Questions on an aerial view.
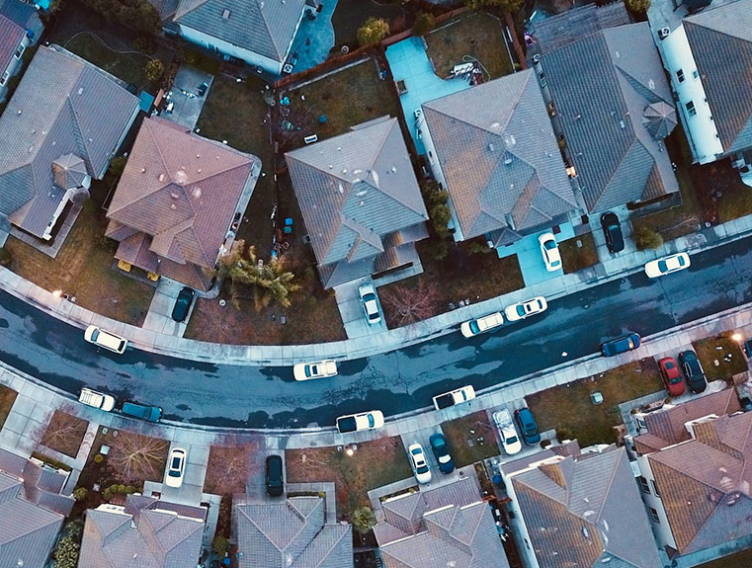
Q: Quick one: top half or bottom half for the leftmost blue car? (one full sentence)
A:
The leftmost blue car sits in the bottom half of the picture.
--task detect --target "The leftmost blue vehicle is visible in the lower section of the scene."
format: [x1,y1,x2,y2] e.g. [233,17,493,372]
[119,399,165,421]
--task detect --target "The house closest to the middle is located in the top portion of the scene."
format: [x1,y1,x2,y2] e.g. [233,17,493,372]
[284,117,431,290]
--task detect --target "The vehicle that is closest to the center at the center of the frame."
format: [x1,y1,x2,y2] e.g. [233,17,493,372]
[359,282,382,326]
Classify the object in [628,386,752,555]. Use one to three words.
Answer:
house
